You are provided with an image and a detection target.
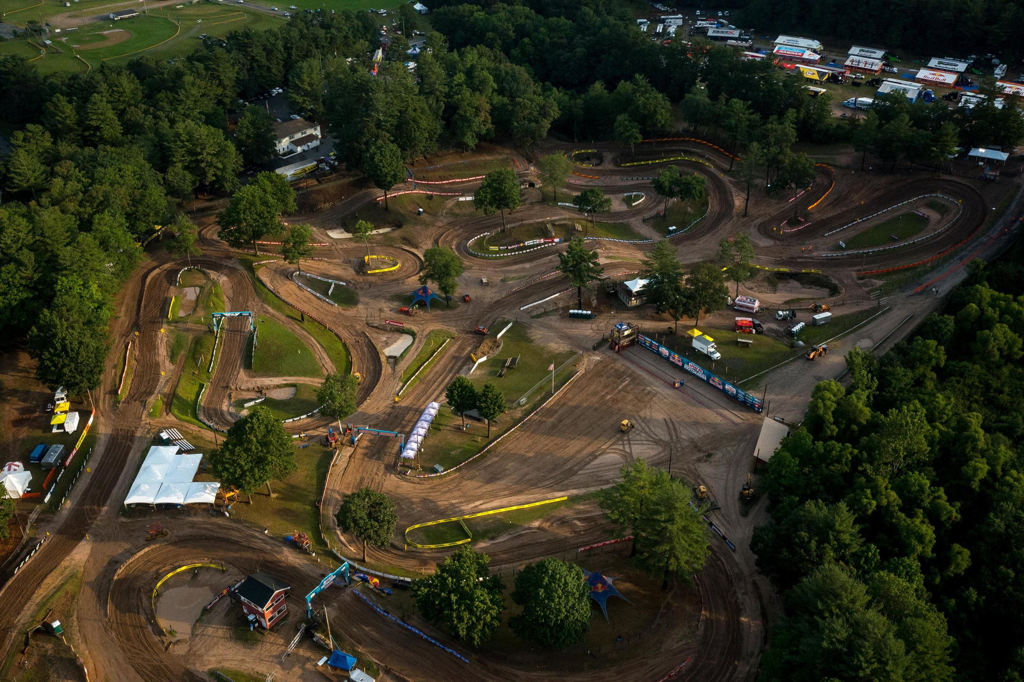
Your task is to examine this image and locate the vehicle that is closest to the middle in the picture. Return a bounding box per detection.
[469,323,492,336]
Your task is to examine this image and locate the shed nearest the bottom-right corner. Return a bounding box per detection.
[753,417,791,474]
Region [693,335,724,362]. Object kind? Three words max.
truck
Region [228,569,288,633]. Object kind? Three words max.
house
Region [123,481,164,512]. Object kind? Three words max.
tent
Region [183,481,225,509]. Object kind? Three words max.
tent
